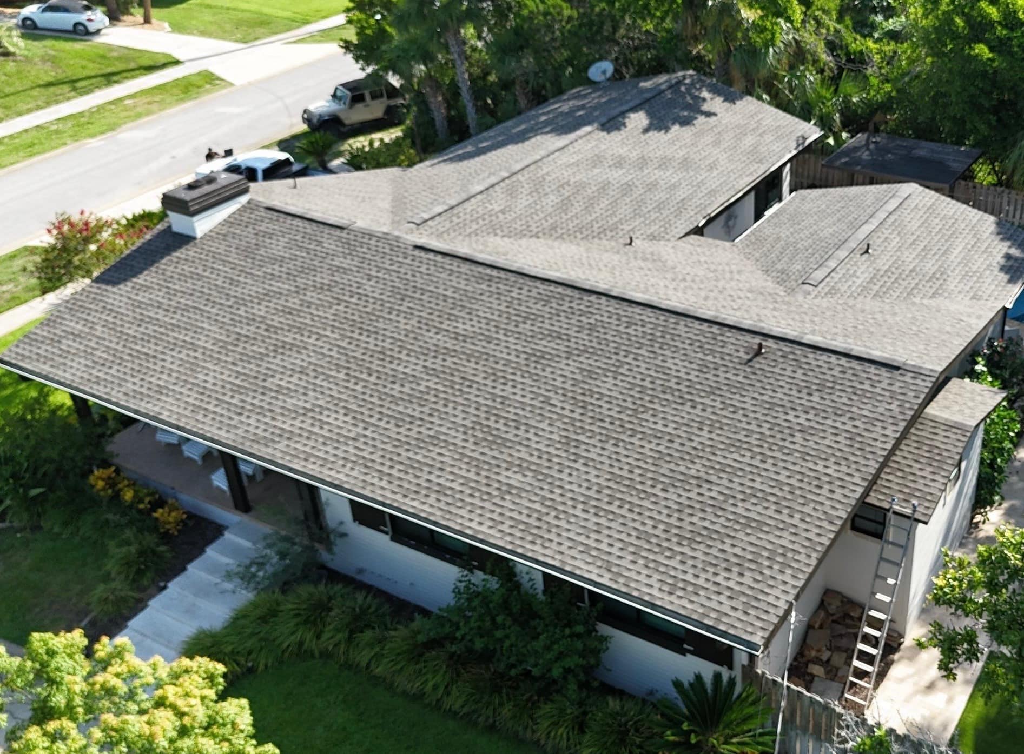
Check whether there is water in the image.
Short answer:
No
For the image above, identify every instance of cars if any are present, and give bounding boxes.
[21,0,114,34]
[302,67,413,133]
